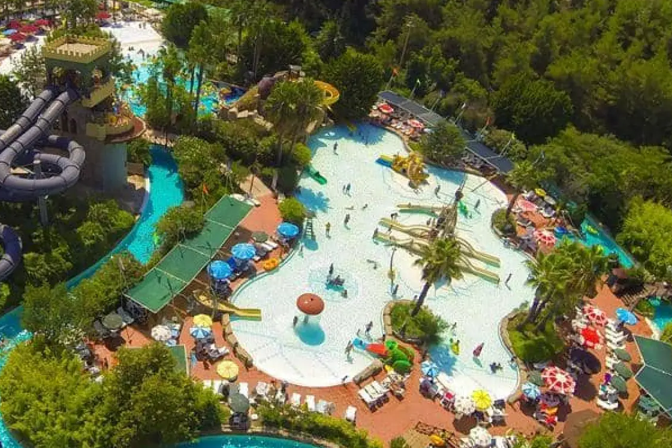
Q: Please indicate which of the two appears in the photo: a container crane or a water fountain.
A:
water fountain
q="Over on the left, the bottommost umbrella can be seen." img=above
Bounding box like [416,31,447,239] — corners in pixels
[226,393,253,427]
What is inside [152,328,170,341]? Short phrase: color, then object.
white umbrella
